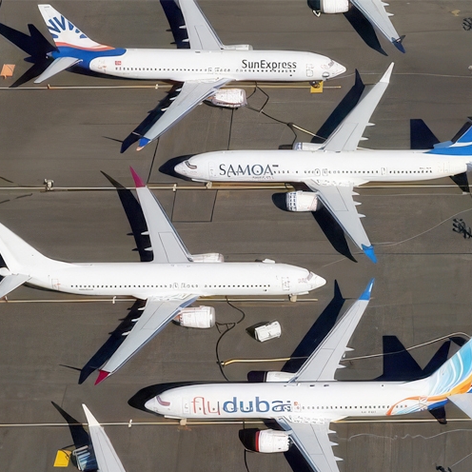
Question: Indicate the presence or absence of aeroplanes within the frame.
Yes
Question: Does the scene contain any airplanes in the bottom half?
Yes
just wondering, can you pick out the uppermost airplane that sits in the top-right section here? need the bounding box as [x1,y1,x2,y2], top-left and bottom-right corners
[319,0,406,54]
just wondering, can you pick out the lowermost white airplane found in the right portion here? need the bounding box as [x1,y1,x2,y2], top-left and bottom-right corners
[142,277,472,472]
